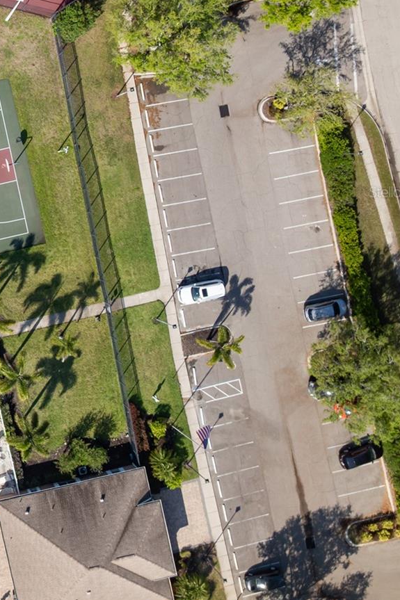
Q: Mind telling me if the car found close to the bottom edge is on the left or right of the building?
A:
on its right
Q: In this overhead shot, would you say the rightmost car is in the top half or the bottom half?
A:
bottom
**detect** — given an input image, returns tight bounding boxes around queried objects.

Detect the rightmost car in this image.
[335,438,383,464]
